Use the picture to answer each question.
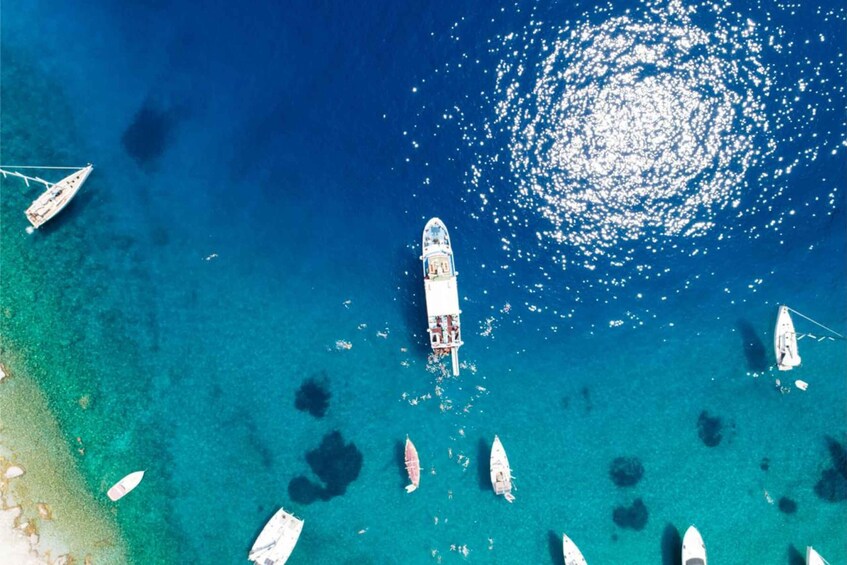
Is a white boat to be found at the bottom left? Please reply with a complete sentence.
Yes, a white boat is visible at the bottom left.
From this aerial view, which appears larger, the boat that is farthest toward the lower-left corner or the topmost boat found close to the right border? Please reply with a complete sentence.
The larger object is the topmost boat found close to the right border, with the boat that is farthest toward the lower-left corner being the smaller of the pair.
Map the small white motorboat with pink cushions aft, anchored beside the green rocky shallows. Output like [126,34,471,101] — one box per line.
[108,470,146,501]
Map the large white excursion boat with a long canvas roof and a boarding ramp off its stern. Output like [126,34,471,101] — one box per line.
[419,218,464,378]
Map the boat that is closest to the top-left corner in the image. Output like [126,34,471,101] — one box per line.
[0,164,93,228]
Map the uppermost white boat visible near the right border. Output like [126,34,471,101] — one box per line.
[773,304,835,369]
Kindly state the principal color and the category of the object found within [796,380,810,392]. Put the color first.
white boat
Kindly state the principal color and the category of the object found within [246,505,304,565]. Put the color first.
white boat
